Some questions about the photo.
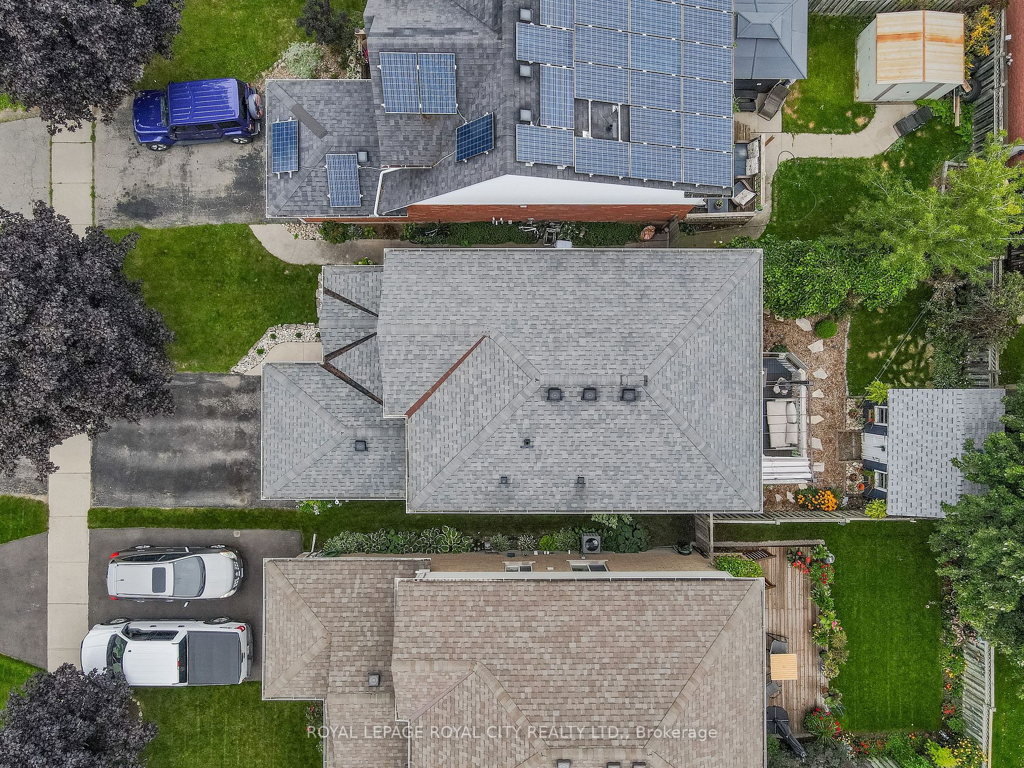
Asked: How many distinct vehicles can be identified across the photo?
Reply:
three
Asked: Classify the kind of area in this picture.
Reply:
residential area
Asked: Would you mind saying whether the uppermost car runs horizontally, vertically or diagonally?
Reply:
horizontally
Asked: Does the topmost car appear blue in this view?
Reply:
Yes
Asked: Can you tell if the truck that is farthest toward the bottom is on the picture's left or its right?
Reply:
left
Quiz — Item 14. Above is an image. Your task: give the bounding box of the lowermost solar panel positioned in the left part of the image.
[325,154,360,207]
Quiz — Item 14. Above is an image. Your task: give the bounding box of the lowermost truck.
[81,614,254,692]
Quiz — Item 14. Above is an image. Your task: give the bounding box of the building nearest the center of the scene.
[261,248,764,514]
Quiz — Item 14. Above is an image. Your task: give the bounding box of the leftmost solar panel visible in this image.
[270,119,296,172]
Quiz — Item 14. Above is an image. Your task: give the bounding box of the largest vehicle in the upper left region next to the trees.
[130,78,260,151]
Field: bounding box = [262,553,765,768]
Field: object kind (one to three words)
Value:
house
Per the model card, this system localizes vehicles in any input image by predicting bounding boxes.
[81,614,254,692]
[130,78,260,151]
[103,543,245,609]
